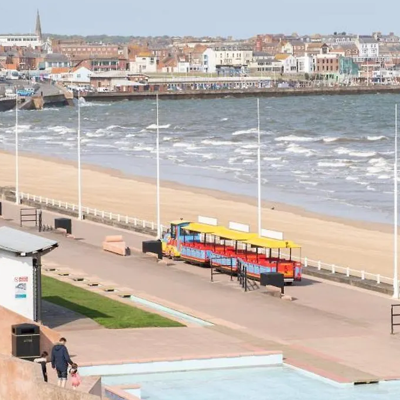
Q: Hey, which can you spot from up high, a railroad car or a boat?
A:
railroad car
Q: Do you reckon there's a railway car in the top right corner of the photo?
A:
No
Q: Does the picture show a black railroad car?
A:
No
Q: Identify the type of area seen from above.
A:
residential area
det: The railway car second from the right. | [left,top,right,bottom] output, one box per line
[210,223,268,277]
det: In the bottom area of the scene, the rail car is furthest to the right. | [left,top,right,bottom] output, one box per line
[242,229,309,286]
